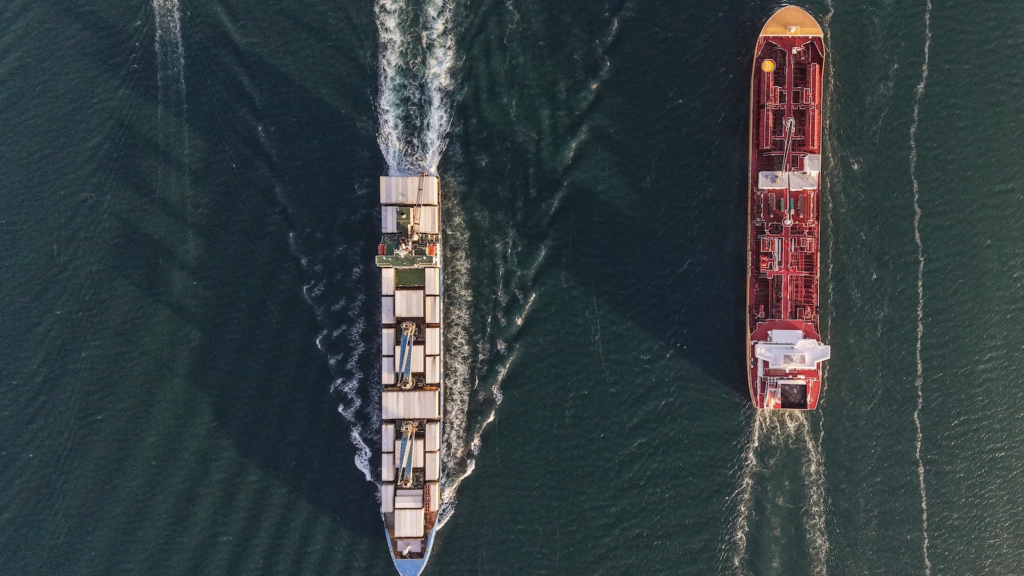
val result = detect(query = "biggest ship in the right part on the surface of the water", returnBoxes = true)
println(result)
[745,4,831,410]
